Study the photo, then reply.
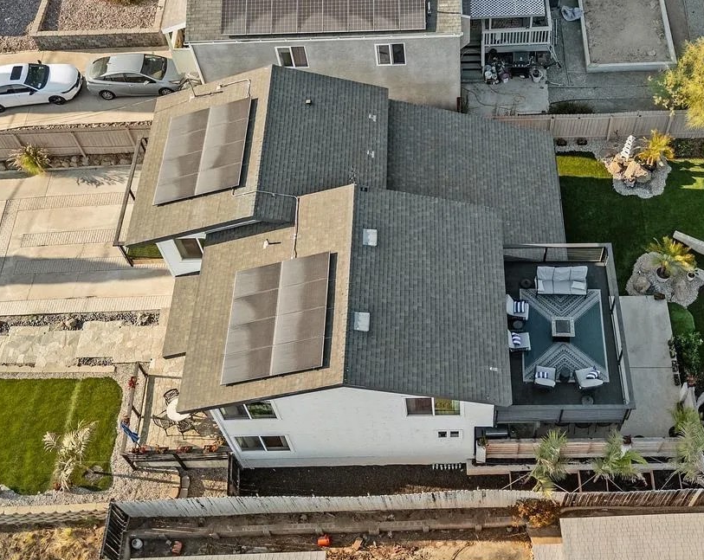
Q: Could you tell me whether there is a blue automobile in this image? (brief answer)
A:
No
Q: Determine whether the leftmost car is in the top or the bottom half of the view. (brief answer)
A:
top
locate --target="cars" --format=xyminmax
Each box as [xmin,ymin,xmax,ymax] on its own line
[82,50,188,101]
[0,59,82,113]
